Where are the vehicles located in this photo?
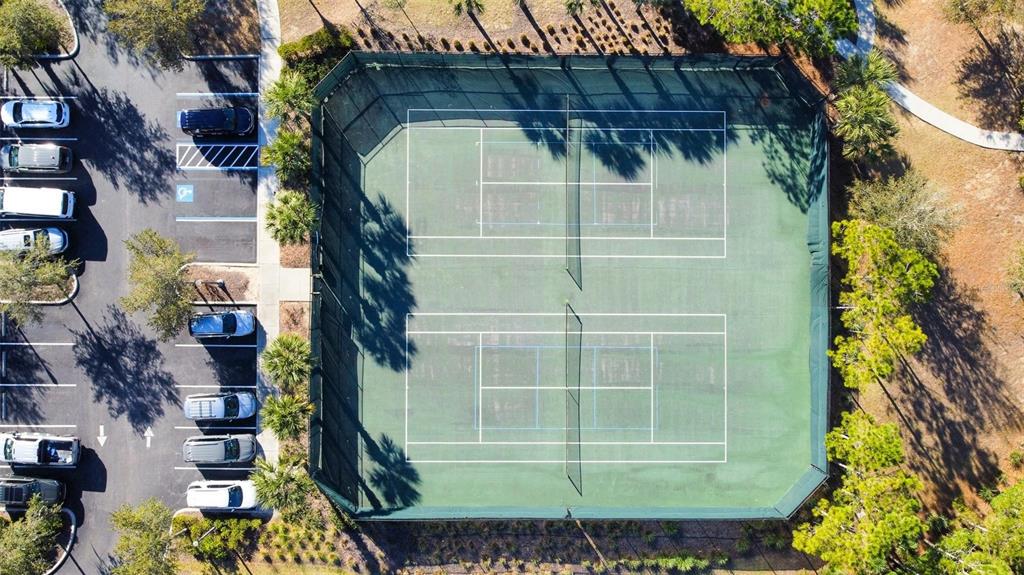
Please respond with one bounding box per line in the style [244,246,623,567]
[4,141,77,173]
[187,389,259,421]
[186,434,258,466]
[189,478,262,511]
[180,104,257,138]
[4,97,74,129]
[0,225,70,257]
[0,435,84,469]
[0,186,79,219]
[190,307,258,338]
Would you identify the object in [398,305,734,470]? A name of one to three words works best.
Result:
tennis court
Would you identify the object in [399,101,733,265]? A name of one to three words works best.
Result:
tennis court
